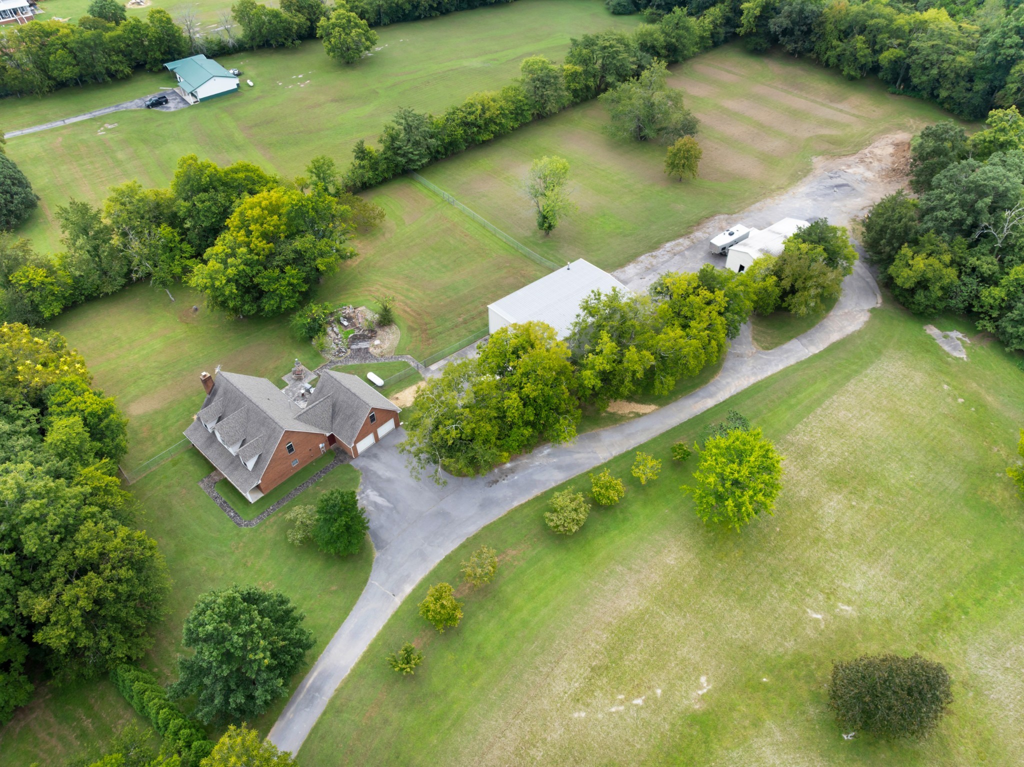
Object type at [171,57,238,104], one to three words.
building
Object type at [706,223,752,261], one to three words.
vehicle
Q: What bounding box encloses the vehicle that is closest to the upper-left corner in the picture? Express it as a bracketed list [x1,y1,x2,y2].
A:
[142,95,171,108]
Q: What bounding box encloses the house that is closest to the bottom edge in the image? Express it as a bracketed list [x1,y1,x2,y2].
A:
[181,365,402,505]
